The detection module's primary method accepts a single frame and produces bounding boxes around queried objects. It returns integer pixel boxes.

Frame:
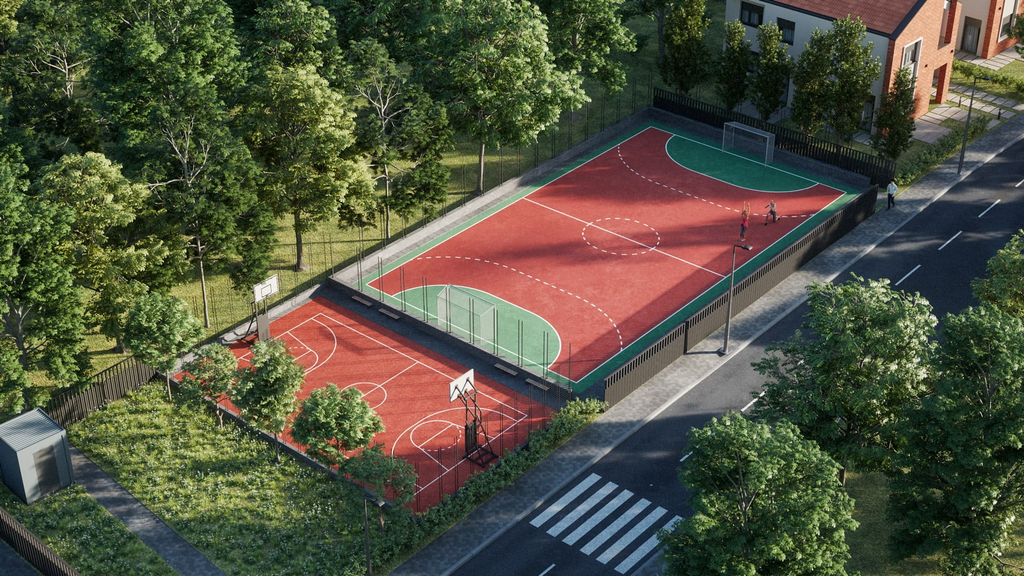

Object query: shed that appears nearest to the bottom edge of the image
[0,408,71,504]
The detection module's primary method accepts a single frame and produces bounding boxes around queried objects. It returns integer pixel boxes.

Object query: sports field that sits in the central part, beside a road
[366,127,845,383]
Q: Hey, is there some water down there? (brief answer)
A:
No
